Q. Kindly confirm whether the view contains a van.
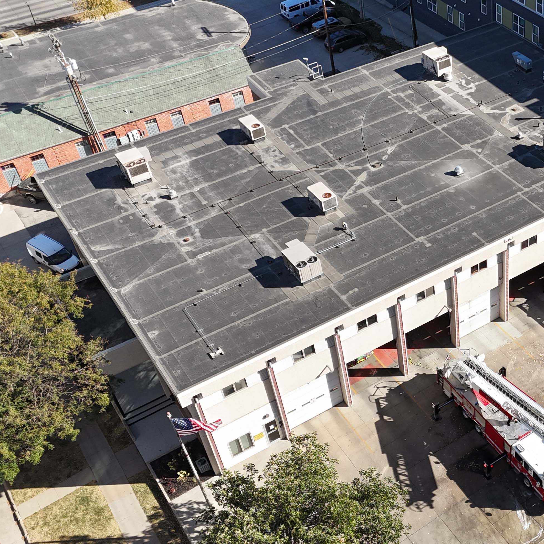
Yes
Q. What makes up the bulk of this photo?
buildings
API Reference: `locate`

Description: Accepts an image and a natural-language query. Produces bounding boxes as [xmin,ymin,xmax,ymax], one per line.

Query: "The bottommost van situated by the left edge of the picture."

[21,235,82,279]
